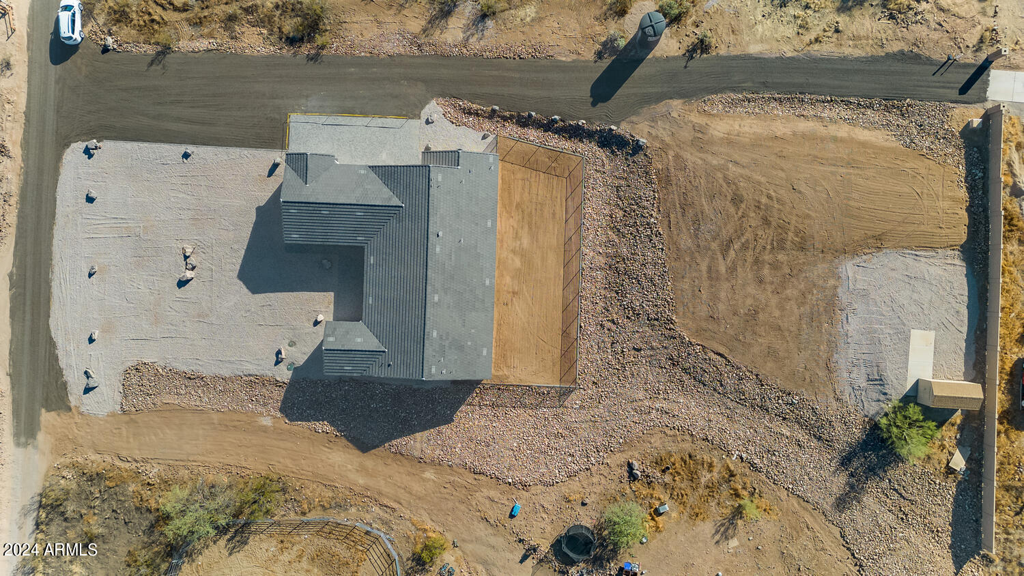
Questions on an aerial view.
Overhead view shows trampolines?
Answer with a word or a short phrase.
Yes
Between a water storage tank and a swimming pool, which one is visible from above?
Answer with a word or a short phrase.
water storage tank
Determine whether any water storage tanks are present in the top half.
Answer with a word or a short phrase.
Yes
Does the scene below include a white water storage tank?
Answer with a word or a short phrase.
No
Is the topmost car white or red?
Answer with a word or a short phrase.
white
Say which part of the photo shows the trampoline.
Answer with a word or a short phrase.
bottom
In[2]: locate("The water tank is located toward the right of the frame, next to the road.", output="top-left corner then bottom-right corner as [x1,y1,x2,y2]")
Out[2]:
[634,14,666,52]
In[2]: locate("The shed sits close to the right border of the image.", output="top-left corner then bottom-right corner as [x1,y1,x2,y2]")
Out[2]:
[917,378,985,409]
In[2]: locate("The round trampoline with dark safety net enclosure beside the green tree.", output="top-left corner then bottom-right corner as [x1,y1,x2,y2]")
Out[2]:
[562,524,596,565]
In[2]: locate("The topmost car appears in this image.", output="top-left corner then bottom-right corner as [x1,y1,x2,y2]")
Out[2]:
[55,0,85,43]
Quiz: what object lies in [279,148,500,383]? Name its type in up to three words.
house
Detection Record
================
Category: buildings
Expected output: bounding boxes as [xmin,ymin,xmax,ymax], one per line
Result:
[279,148,500,383]
[917,378,985,409]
